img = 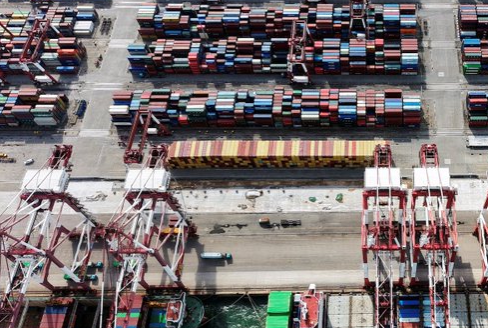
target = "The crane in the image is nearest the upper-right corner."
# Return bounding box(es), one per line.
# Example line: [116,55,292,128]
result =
[346,0,372,45]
